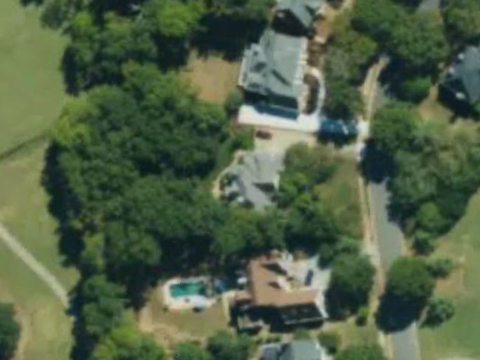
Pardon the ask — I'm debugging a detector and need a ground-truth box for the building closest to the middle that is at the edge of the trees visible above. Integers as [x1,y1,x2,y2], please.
[227,142,285,212]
